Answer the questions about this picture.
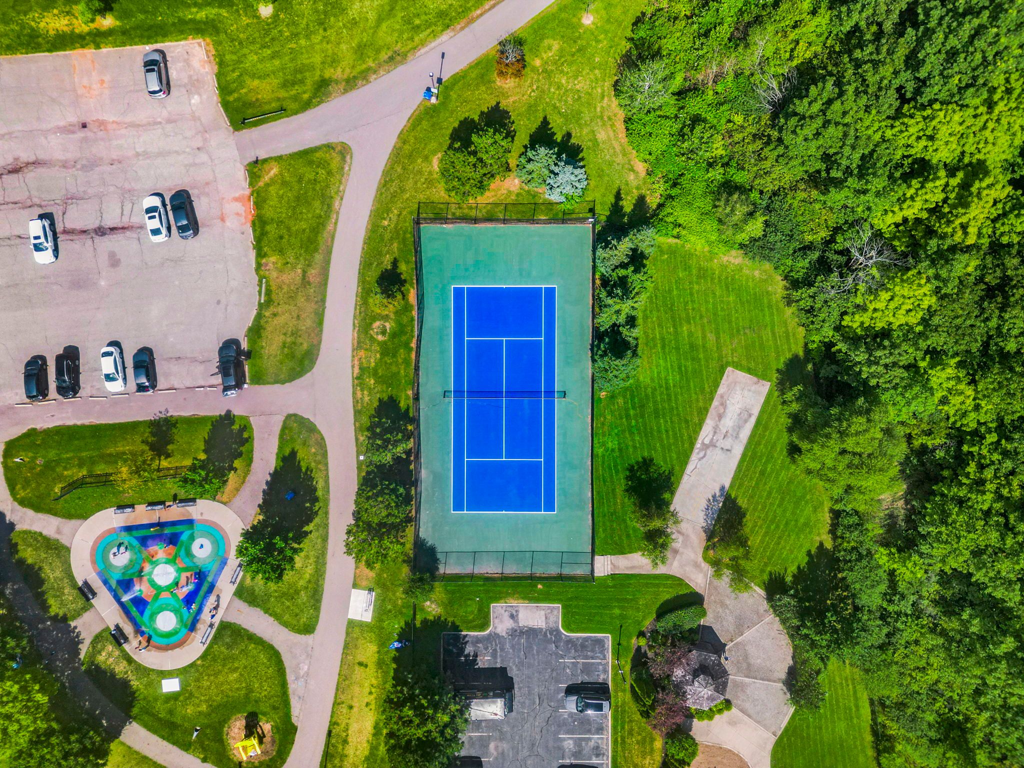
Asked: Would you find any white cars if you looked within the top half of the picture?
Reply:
Yes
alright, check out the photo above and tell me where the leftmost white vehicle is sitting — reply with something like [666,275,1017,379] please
[31,219,61,264]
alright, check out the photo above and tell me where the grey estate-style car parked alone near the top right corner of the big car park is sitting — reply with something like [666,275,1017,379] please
[144,54,171,100]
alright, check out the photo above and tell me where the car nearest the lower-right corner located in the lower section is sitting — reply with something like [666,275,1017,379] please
[564,689,610,714]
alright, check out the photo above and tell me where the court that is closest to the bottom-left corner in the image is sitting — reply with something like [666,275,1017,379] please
[420,223,594,574]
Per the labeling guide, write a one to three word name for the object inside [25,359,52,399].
car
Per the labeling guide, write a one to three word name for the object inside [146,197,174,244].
car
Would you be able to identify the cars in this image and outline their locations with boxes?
[55,353,83,397]
[564,689,610,714]
[25,359,52,399]
[144,54,171,100]
[146,197,174,244]
[213,346,252,396]
[135,351,160,393]
[173,194,200,240]
[105,346,131,392]
[31,219,61,264]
